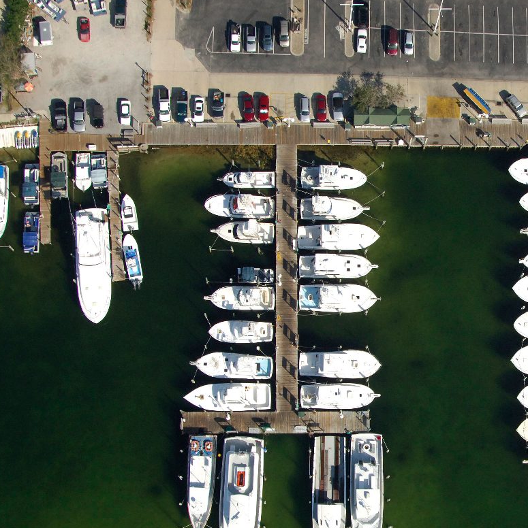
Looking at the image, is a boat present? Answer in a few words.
Yes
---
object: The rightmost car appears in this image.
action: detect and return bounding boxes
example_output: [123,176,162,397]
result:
[504,90,528,119]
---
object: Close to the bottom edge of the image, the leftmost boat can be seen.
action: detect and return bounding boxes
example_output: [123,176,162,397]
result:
[186,436,215,528]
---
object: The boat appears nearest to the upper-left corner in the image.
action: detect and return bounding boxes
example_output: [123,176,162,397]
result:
[27,0,67,22]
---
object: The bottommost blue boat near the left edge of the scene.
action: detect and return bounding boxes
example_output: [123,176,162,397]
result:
[22,213,39,261]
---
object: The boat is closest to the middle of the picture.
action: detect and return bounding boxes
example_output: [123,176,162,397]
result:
[238,267,275,284]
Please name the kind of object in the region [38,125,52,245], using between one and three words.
pier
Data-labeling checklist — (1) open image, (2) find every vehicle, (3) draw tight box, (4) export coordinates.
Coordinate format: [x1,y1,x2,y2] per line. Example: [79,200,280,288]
[463,83,492,116]
[194,98,204,122]
[93,102,103,128]
[119,100,131,125]
[244,95,253,120]
[262,24,273,51]
[156,88,170,122]
[278,19,290,47]
[356,1,367,30]
[357,30,367,53]
[504,90,528,119]
[229,24,241,52]
[79,18,89,42]
[387,29,399,56]
[113,0,126,28]
[52,101,66,132]
[246,26,257,52]
[71,101,85,132]
[332,94,344,121]
[175,90,187,122]
[258,96,269,121]
[211,92,224,118]
[316,96,327,122]
[299,97,310,122]
[403,32,414,55]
